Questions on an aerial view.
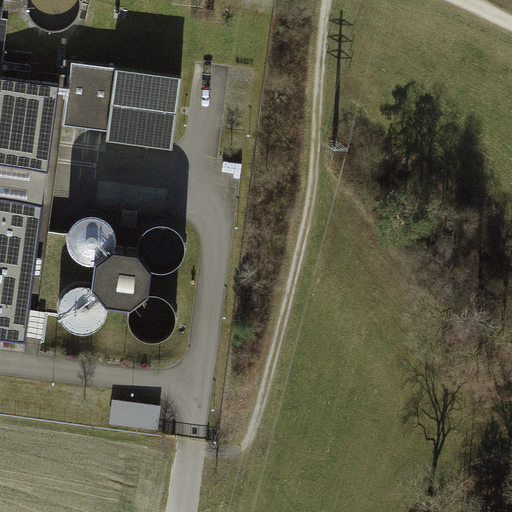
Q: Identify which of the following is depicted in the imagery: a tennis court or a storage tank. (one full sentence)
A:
Visible in the photo is a storage tank.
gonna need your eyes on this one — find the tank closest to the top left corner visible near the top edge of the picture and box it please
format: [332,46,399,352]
[21,0,82,32]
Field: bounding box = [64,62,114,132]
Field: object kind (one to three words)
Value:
building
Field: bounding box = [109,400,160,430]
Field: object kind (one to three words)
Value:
shed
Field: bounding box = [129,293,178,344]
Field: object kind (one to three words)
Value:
storage tank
